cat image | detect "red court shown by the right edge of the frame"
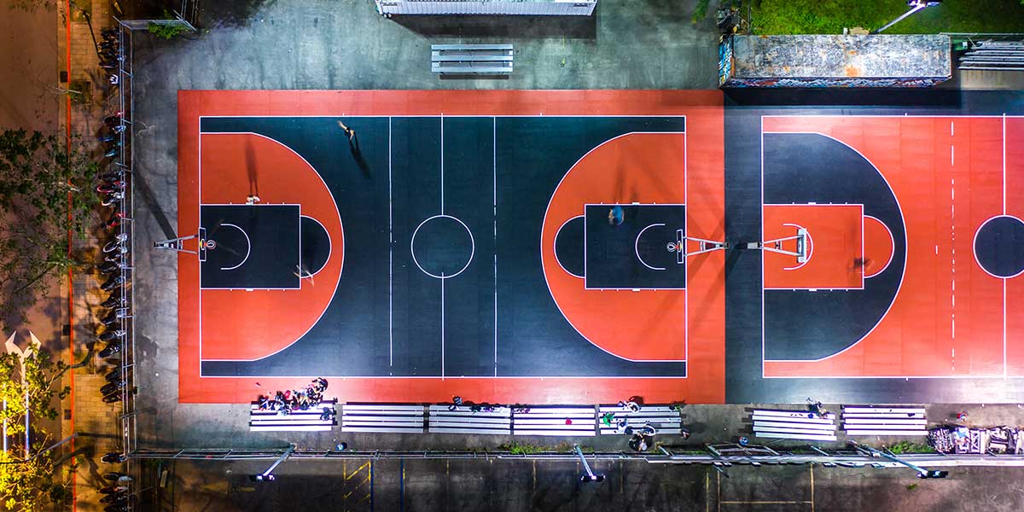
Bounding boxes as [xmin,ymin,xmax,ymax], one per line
[725,90,1024,404]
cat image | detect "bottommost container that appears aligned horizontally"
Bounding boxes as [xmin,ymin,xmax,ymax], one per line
[722,34,952,87]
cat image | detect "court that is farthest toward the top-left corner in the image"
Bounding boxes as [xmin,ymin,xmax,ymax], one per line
[178,90,725,404]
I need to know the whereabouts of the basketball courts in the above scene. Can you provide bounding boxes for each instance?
[725,90,1024,404]
[178,90,725,404]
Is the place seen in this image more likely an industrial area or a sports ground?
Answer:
sports ground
